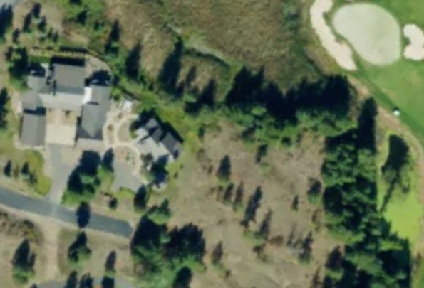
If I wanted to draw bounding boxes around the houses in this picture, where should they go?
[134,118,184,162]
[19,63,111,147]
